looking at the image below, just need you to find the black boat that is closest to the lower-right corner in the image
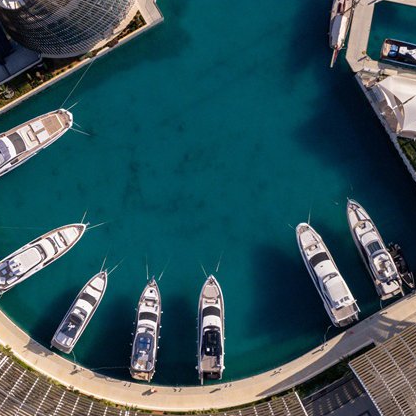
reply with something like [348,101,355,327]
[384,241,415,287]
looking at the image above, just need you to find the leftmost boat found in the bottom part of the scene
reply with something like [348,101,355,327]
[0,224,85,297]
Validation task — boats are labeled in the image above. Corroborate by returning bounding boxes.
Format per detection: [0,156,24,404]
[290,210,357,341]
[53,259,118,355]
[384,241,415,287]
[0,55,99,180]
[329,0,355,66]
[96,274,161,383]
[0,224,85,297]
[378,43,416,69]
[336,189,404,307]
[196,265,224,385]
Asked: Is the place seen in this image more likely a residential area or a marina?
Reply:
marina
